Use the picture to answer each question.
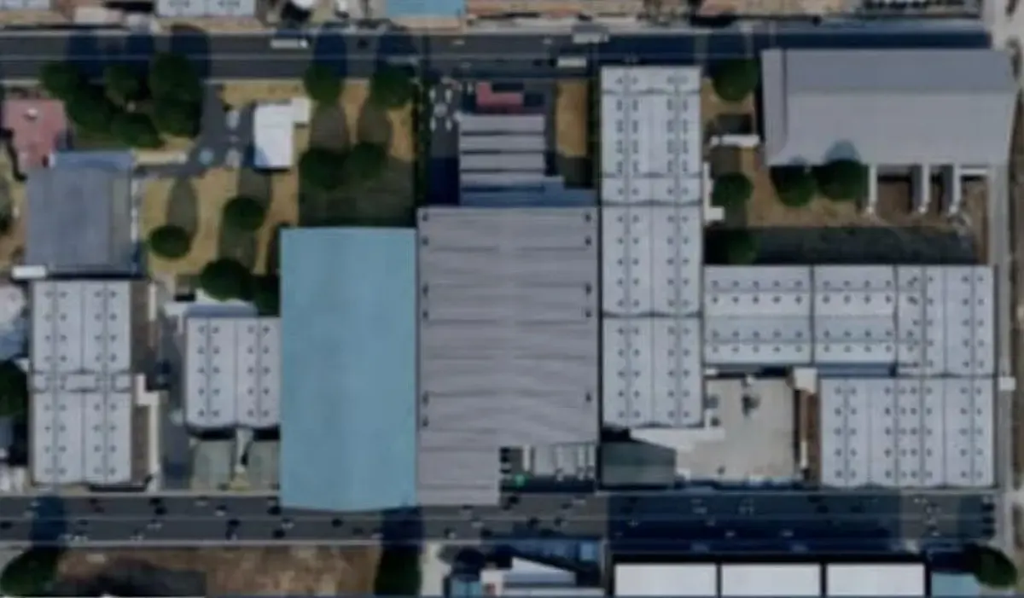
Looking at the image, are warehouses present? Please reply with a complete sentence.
Yes, a warehouse can be made out from above.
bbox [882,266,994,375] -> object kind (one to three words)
building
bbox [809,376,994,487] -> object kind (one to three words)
building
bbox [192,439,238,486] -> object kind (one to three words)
shed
